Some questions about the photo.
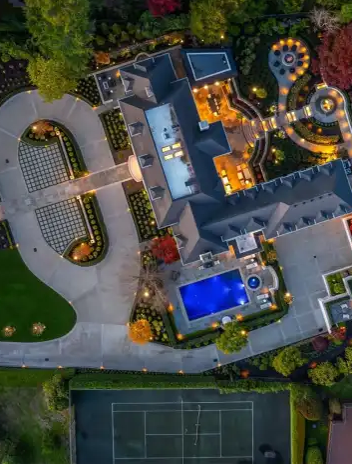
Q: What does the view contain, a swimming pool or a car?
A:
swimming pool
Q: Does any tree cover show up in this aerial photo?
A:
Yes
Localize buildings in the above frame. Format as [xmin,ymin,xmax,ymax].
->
[118,48,352,266]
[322,396,352,464]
